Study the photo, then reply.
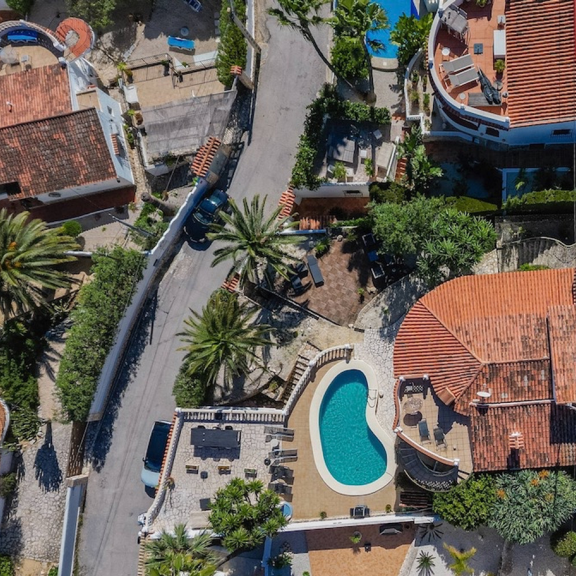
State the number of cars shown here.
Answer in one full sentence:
There are 2 cars in the image.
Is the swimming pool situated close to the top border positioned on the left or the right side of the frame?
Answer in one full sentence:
It is on the right.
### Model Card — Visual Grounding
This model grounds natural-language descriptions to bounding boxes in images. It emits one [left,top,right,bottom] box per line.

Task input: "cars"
[178,188,235,246]
[131,422,166,489]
